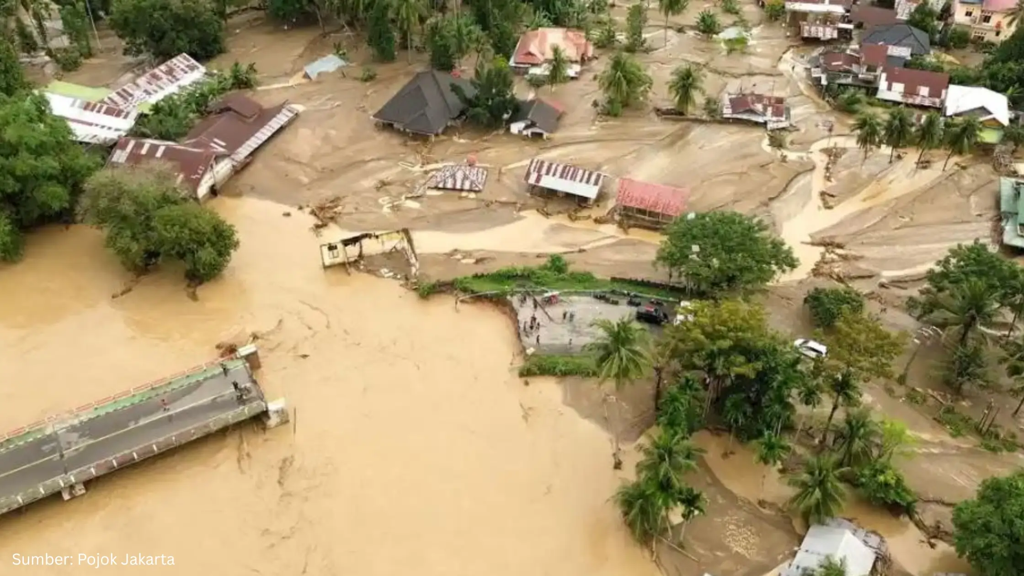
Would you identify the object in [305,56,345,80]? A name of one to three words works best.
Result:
shed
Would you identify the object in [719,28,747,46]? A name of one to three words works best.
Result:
house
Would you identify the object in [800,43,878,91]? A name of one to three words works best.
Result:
house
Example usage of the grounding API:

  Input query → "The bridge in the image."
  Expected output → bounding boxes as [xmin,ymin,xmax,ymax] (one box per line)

[0,345,285,511]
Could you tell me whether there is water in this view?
Yes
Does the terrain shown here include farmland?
No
